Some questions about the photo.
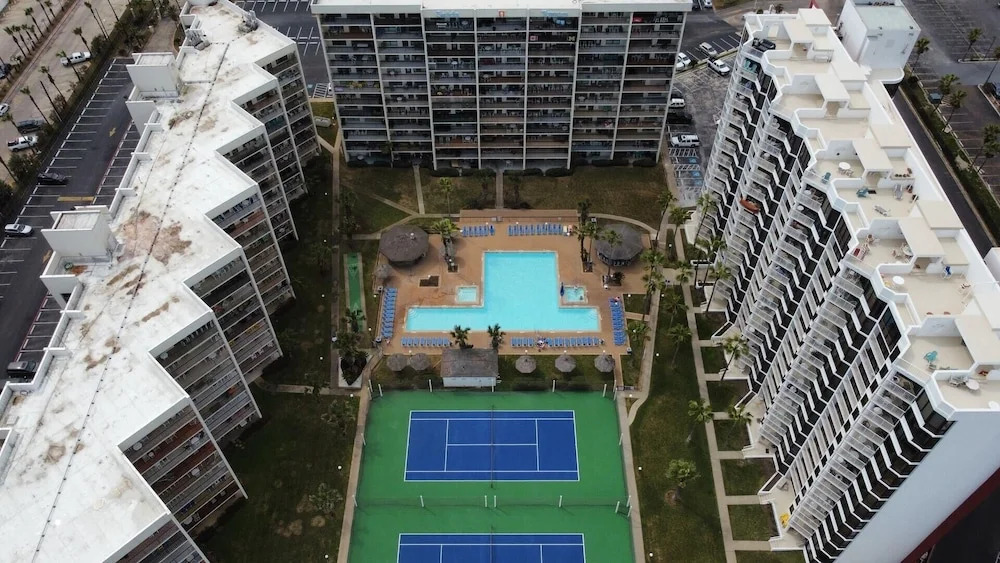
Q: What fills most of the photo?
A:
buildings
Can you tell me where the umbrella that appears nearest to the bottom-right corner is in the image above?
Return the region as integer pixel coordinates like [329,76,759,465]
[593,351,616,372]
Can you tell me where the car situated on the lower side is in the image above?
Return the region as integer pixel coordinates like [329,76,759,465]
[1,360,39,378]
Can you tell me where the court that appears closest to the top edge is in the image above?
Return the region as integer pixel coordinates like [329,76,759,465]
[344,252,367,334]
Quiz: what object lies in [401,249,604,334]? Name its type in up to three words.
swimming pool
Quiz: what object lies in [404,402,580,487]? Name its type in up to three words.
tennis court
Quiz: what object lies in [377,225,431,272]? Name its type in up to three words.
gazebo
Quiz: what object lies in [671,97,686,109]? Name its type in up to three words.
vehicle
